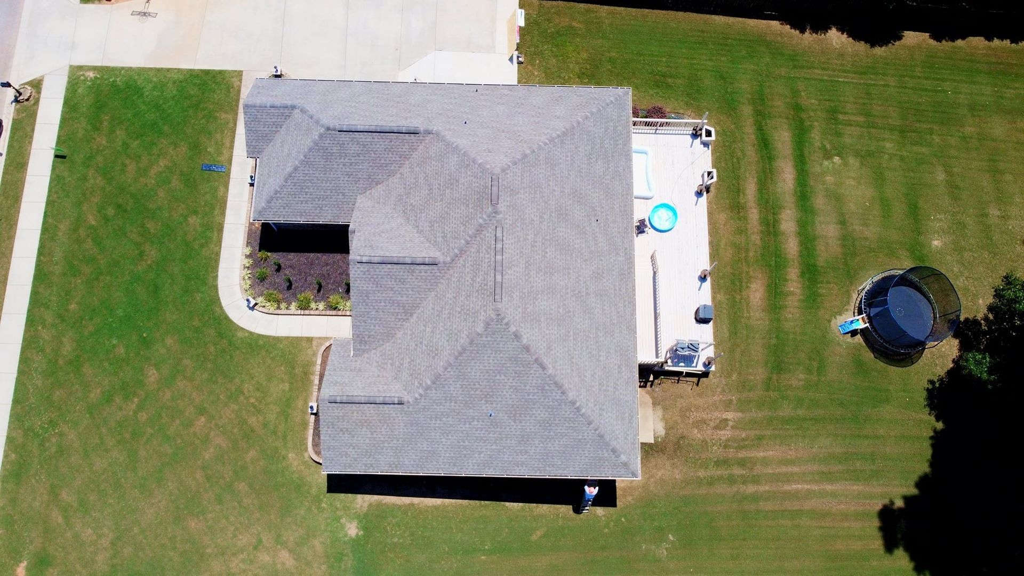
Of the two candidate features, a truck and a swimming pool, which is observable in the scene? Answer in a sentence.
Of the two, only a swimming pool appears.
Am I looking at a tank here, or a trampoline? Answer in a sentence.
There is a trampoline in the scene.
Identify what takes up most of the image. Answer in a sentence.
For the most part, this view shows grass.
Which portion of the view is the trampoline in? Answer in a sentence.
The trampoline is located in the right region of the scene.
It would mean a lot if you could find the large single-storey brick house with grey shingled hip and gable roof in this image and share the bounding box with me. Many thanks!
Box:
[240,77,642,483]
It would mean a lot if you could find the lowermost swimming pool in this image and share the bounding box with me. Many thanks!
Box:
[649,203,678,232]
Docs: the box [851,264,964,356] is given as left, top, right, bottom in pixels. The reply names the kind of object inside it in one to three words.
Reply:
trampoline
